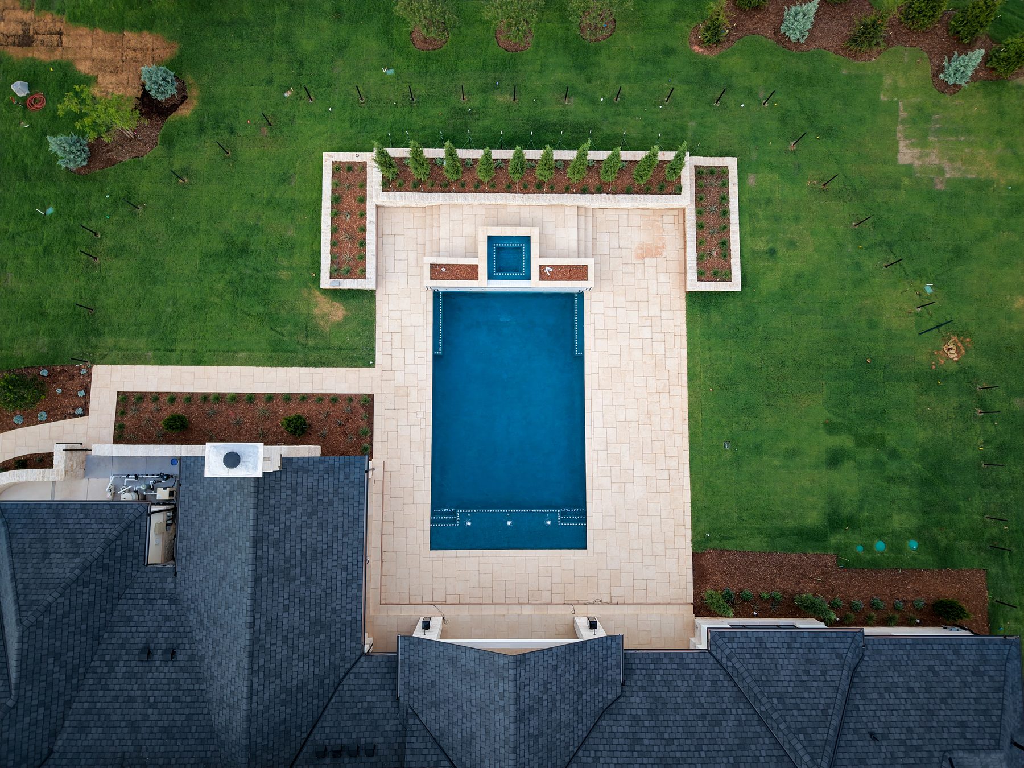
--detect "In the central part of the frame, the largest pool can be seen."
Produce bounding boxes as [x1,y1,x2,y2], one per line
[431,294,586,550]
